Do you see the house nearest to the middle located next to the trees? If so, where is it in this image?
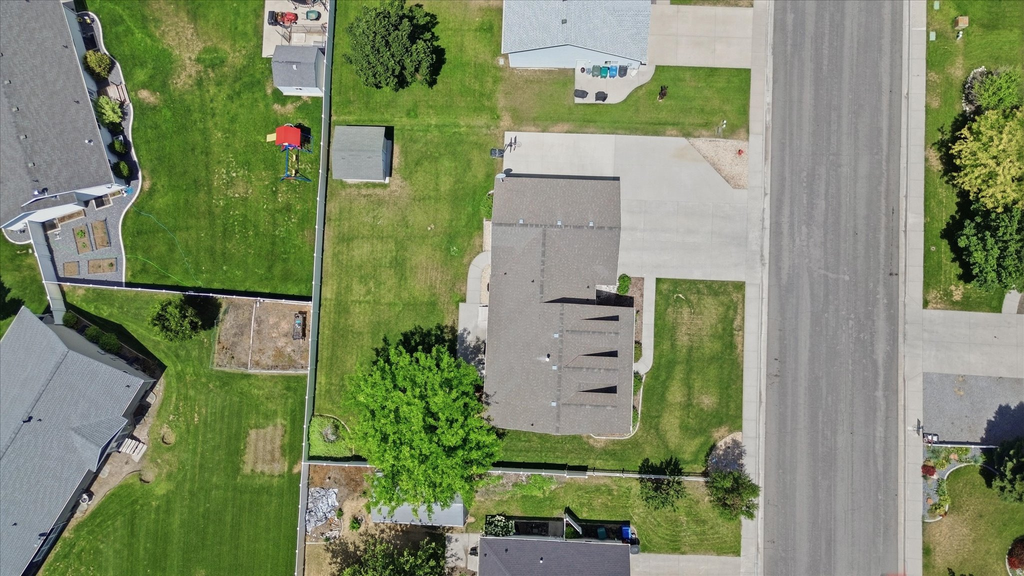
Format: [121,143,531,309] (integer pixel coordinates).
[485,171,636,437]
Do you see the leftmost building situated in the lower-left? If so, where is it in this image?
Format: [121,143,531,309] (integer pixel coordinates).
[0,302,158,576]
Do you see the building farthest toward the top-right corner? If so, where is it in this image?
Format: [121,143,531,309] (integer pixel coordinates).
[500,0,662,72]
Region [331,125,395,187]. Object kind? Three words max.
shed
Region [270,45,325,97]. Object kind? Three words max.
shed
